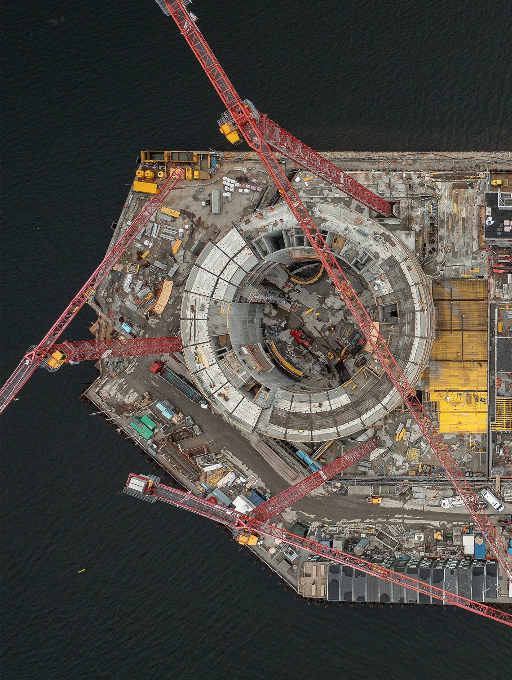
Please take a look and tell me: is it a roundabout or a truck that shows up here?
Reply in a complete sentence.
There is a truck in the scene.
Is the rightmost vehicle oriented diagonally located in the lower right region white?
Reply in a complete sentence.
Yes, white is the color of the rightmost vehicle oriented diagonally located in the lower right region.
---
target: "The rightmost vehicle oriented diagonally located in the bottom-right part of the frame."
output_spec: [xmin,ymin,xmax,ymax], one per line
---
[480,488,504,513]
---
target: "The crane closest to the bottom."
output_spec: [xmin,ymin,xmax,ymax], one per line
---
[123,424,512,628]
